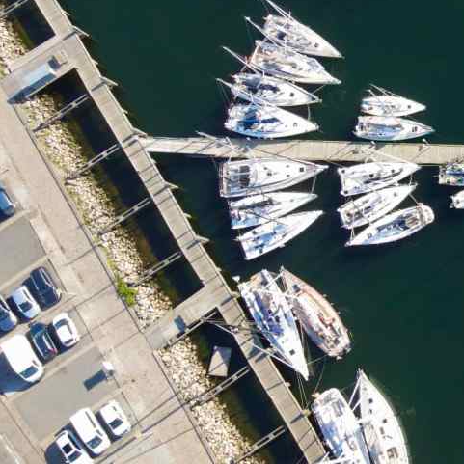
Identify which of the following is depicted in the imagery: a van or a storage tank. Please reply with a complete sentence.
This aerial view contains a van.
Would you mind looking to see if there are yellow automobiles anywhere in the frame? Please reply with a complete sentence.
No, the frame has no yellow automobile in it.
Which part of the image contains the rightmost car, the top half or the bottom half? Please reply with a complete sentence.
The rightmost car sits in the bottom half of the picture.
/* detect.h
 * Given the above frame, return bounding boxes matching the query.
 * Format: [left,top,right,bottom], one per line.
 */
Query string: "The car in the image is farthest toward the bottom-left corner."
[58,427,89,464]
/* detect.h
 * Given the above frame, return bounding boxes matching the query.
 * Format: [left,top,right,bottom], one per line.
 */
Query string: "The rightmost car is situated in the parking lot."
[102,400,131,437]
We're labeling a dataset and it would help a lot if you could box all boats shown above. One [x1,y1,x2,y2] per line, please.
[220,46,320,110]
[358,84,427,118]
[222,180,319,226]
[259,0,343,57]
[210,137,328,196]
[210,76,318,139]
[354,99,435,143]
[303,59,328,76]
[450,191,464,210]
[338,177,418,228]
[312,369,414,464]
[243,270,350,355]
[436,160,464,188]
[233,209,323,260]
[237,13,341,86]
[339,148,422,195]
[337,209,436,248]
[212,270,308,381]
